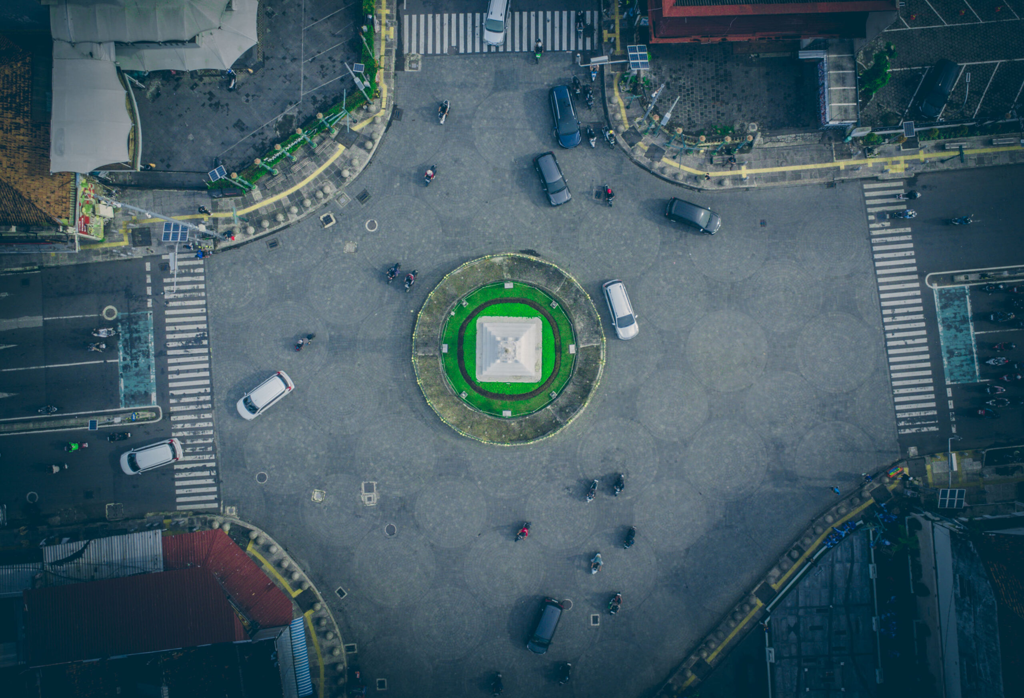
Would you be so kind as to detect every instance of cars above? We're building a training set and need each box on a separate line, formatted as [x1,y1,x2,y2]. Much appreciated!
[122,437,185,474]
[238,369,296,417]
[664,196,719,236]
[600,277,637,341]
[482,0,514,49]
[534,150,569,207]
[547,82,582,150]
[527,596,563,652]
[914,54,965,119]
